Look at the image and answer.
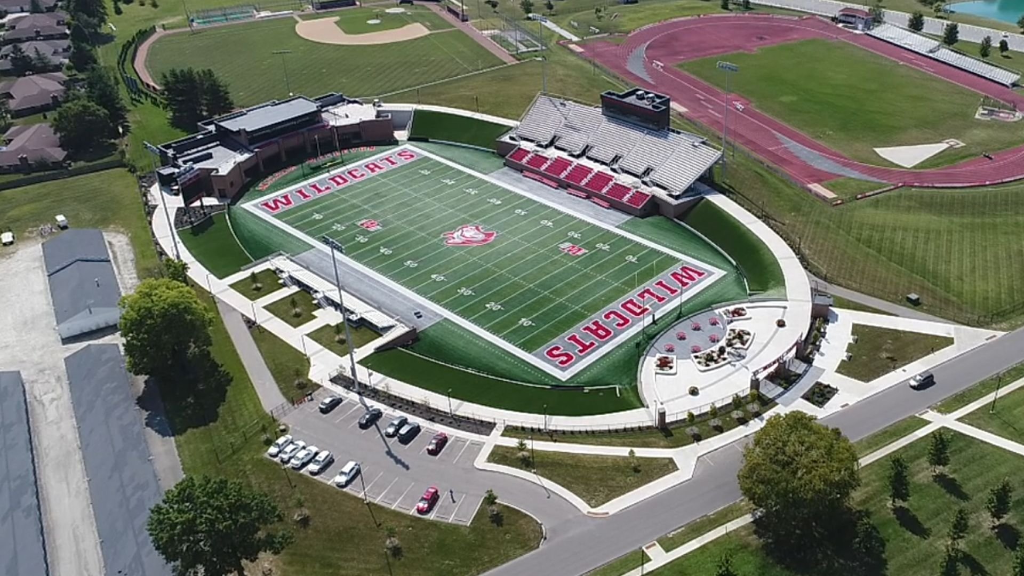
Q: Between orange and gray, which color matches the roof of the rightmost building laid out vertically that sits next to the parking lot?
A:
gray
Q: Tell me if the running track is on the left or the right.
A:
right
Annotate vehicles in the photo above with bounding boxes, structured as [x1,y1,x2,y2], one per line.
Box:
[358,407,382,426]
[268,432,291,454]
[334,459,359,484]
[415,488,439,511]
[396,419,421,441]
[291,445,317,466]
[0,232,12,243]
[383,415,407,434]
[425,432,449,452]
[318,394,342,412]
[54,217,67,227]
[279,440,303,460]
[910,369,935,387]
[308,448,332,471]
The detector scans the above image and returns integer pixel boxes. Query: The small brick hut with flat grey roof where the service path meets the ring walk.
[813,295,833,317]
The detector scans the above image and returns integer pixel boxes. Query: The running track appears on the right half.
[574,14,1024,204]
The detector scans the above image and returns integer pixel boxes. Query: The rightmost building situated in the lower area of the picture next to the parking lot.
[65,343,172,576]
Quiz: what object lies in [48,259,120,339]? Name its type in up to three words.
building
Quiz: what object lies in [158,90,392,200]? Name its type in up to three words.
building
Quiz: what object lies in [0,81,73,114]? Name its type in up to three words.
house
